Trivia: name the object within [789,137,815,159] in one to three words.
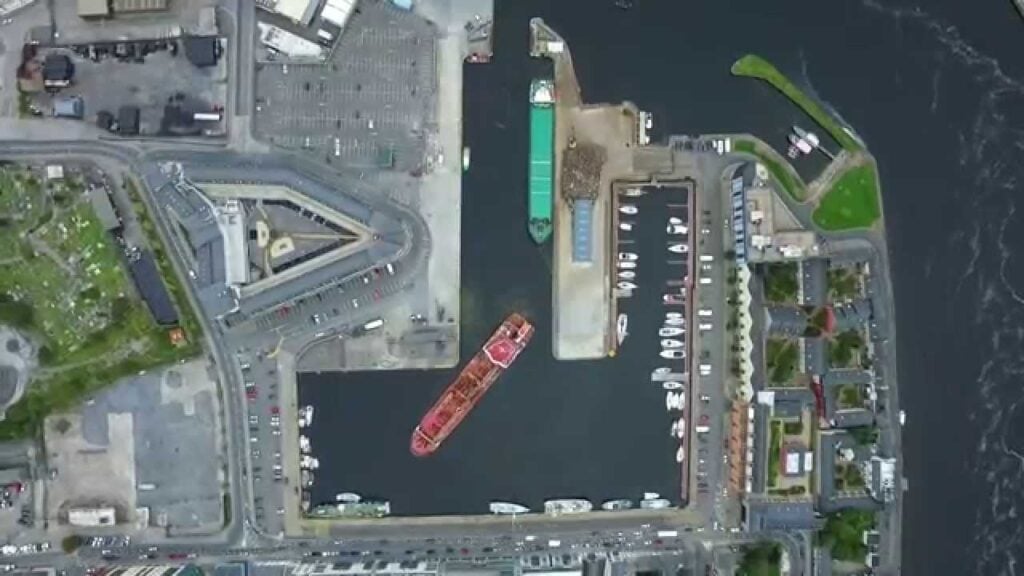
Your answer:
boat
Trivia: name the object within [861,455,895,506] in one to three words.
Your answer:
house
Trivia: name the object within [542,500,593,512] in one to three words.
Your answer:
boat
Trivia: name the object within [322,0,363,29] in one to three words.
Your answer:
building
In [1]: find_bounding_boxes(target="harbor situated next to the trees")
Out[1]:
[277,0,700,534]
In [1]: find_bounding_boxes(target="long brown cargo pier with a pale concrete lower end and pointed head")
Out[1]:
[530,17,661,358]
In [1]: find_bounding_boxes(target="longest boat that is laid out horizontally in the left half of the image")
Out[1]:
[309,502,390,518]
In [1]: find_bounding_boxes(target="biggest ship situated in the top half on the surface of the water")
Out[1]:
[530,78,554,242]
